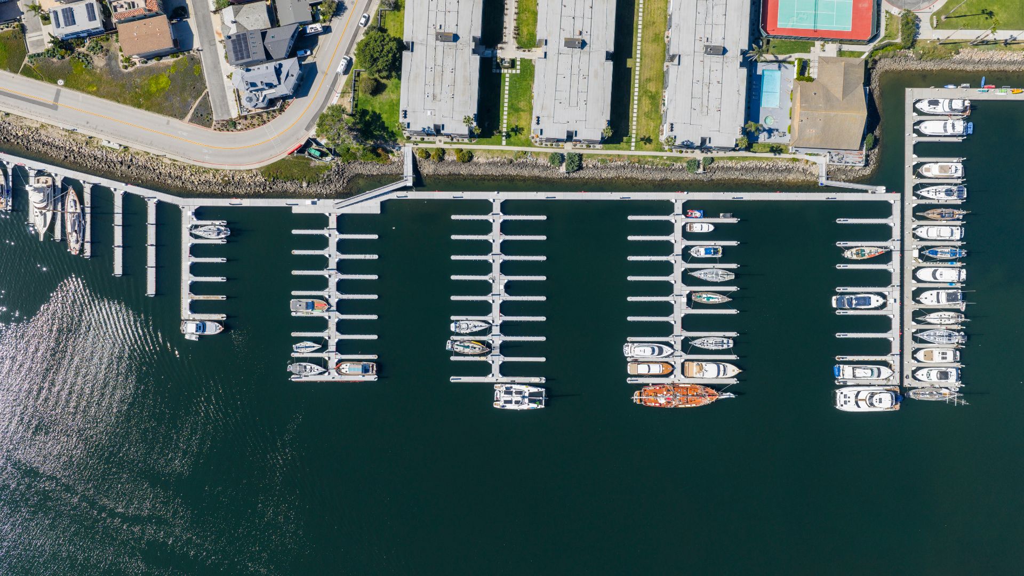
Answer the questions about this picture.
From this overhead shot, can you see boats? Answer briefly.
Yes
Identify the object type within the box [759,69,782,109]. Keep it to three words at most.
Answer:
swimming pool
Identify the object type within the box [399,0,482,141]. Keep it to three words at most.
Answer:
building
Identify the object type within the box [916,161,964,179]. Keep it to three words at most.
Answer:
boat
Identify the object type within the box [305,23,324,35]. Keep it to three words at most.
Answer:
vehicle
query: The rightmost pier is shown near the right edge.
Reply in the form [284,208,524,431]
[903,88,1024,387]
